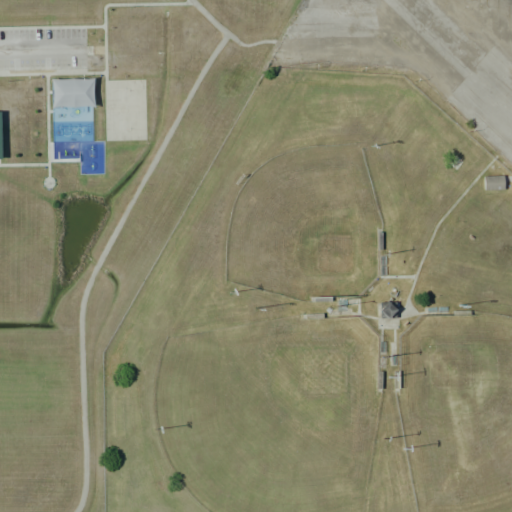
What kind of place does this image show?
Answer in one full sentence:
This looks like a sports ground.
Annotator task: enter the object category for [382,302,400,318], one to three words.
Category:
building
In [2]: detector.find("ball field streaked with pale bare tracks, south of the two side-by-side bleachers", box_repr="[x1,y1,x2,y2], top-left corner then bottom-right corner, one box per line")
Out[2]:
[399,316,512,512]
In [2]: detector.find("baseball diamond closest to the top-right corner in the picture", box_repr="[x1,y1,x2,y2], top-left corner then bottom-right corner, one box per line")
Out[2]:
[226,146,382,301]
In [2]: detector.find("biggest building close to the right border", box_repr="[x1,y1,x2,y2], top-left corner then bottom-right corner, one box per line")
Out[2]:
[485,176,506,190]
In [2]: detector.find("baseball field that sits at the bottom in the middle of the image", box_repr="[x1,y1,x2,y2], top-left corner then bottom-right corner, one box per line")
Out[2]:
[157,319,381,512]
